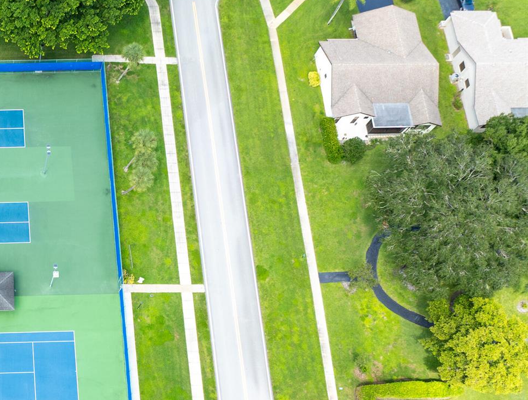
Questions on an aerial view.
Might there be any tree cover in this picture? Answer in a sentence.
Yes, tree cover can be seen from above here.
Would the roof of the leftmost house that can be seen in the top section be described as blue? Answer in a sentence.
No, from above the roof of the leftmost house that can be seen in the top section looks white.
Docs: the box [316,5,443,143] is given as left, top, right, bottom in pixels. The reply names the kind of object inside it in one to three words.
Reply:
house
